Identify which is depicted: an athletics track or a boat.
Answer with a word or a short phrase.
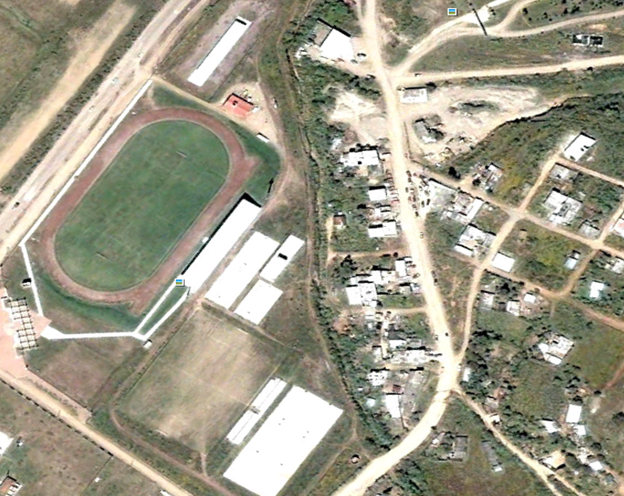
athletics track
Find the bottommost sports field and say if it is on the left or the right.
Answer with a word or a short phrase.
left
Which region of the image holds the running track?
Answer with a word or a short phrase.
left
